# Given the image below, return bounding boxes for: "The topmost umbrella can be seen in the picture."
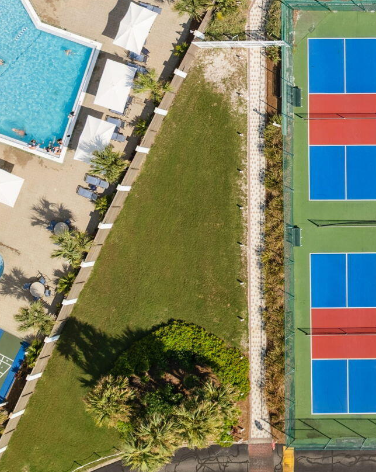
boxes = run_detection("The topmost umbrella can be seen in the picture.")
[113,2,159,55]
